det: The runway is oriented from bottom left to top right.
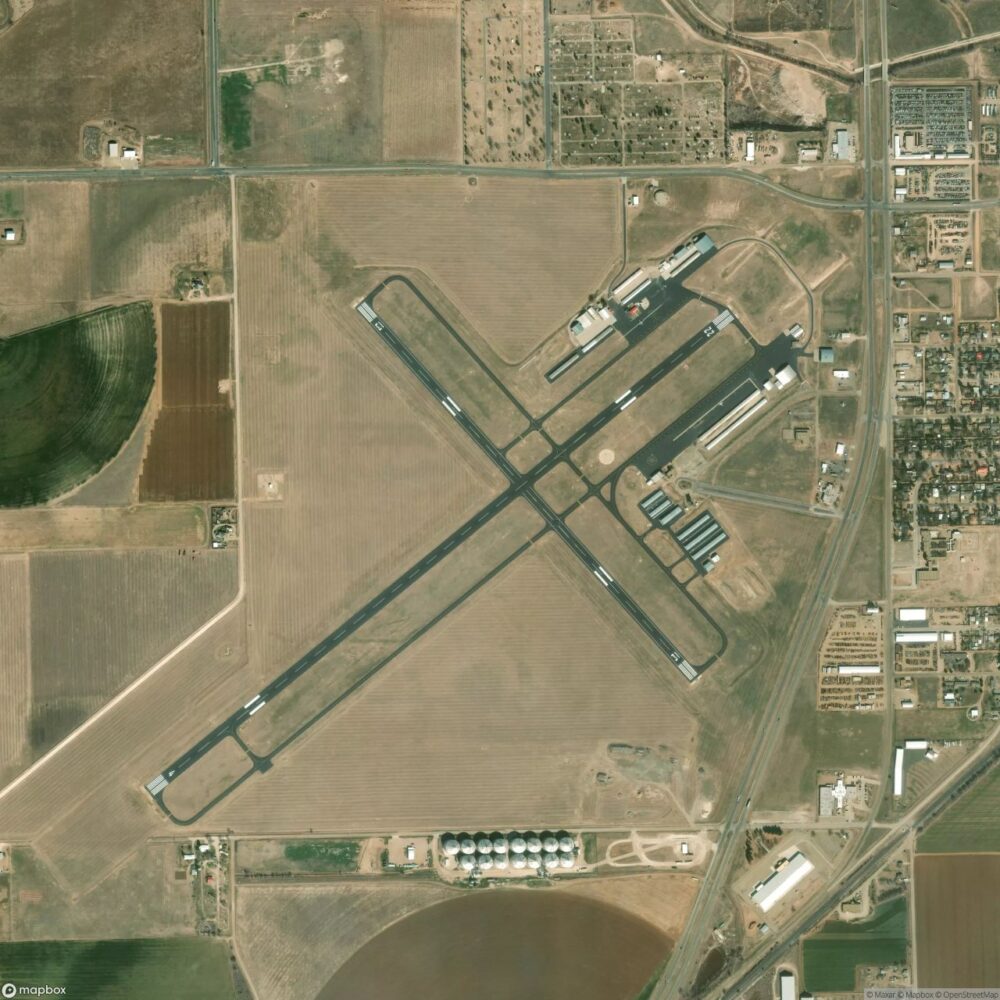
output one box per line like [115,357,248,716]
[146,310,734,796]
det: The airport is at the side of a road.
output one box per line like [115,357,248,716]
[146,243,819,823]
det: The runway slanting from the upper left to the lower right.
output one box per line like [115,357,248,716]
[357,301,698,681]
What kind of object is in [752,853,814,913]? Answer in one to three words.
building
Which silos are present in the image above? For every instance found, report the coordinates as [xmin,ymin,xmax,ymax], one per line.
[512,854,526,871]
[493,855,509,871]
[560,838,574,854]
[478,840,492,855]
[526,839,542,854]
[544,839,559,854]
[460,840,476,856]
[512,839,526,855]
[444,840,459,856]
[492,839,508,855]
[560,854,574,870]
[461,856,477,872]
[544,854,560,870]
[526,854,542,871]
[479,855,493,872]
